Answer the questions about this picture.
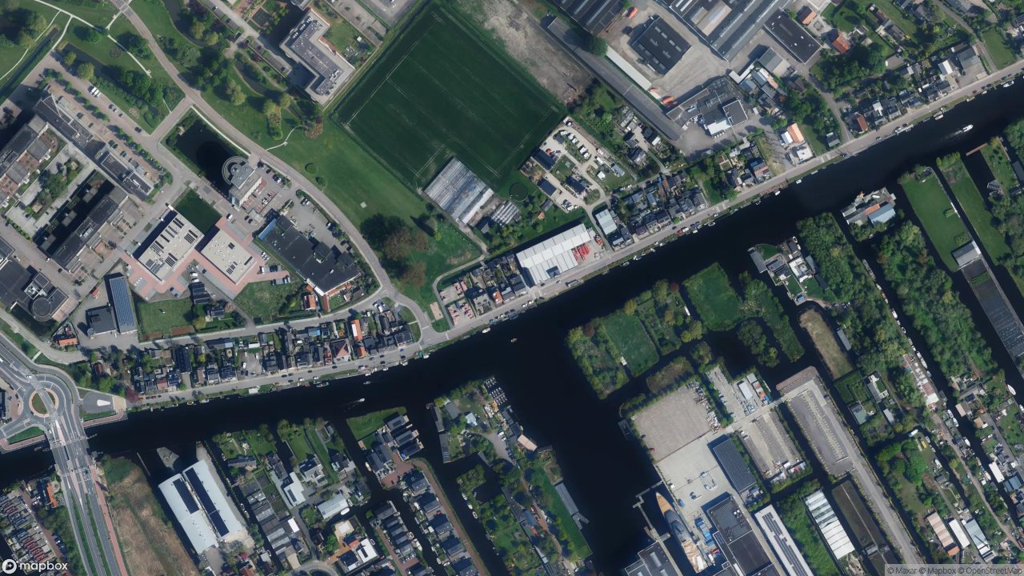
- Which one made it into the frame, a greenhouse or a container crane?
greenhouse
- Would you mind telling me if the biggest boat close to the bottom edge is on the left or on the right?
right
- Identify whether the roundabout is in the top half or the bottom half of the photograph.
bottom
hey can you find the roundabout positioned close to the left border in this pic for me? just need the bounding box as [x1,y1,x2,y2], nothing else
[18,377,70,428]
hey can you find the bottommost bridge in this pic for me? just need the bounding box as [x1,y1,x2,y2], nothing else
[48,432,102,468]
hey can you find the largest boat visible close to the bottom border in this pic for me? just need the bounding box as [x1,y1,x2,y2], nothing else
[656,493,706,571]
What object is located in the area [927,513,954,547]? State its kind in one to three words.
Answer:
shed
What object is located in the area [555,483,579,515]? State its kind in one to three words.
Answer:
boat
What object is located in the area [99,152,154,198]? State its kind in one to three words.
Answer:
building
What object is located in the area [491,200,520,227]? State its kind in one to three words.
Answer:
greenhouse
